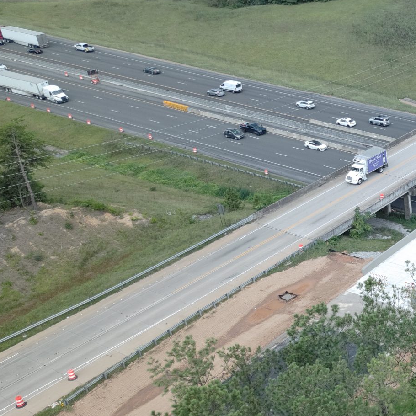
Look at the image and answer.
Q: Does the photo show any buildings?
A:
No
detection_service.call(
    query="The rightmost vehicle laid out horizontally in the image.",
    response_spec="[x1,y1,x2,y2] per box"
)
[368,114,393,127]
